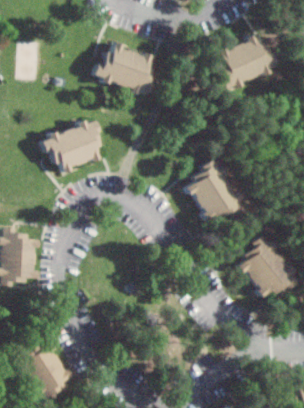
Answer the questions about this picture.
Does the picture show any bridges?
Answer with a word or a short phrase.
No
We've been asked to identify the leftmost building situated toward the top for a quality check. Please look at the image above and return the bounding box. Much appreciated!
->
[42,121,105,170]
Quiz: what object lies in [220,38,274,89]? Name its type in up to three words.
building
